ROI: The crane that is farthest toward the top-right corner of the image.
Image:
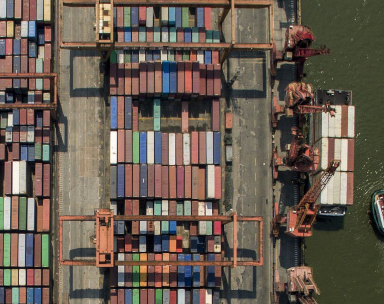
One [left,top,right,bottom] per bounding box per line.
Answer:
[273,18,335,77]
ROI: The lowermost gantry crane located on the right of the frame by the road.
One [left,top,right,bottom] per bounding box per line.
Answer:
[273,266,321,304]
